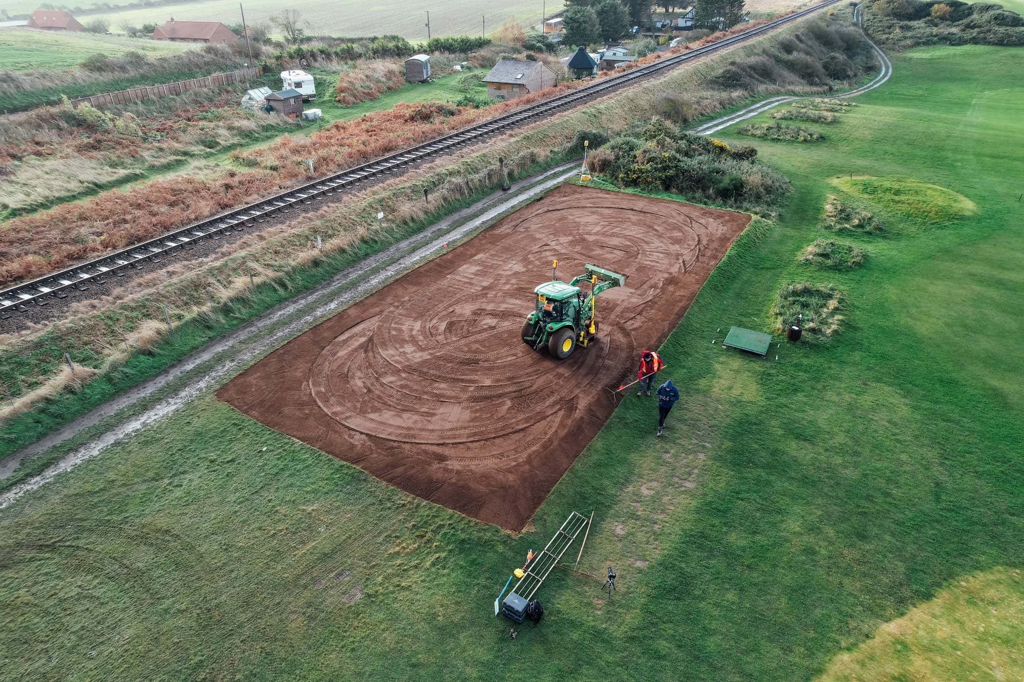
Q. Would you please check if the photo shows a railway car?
No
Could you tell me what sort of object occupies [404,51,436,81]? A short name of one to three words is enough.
shed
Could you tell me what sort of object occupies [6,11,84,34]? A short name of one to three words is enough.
house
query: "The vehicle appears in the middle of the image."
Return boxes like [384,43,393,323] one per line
[517,257,629,359]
